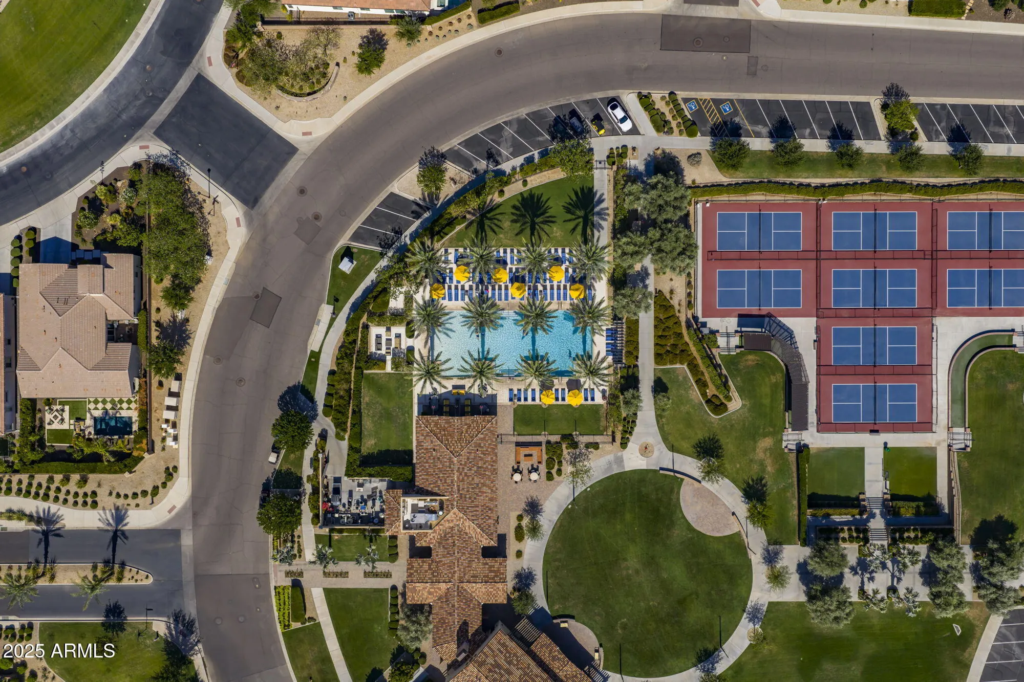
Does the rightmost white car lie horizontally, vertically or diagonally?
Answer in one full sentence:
The rightmost white car is laid out diagonally.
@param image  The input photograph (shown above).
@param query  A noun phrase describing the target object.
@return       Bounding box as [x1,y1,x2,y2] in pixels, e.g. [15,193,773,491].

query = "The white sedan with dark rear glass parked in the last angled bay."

[607,100,631,130]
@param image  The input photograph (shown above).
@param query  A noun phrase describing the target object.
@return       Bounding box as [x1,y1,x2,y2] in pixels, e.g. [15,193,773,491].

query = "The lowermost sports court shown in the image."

[819,375,934,433]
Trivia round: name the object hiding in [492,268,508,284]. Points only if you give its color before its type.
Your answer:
yellow umbrella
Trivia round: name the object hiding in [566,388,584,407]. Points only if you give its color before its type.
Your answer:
yellow umbrella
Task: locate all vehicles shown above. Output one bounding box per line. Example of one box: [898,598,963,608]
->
[564,107,583,134]
[549,109,568,136]
[587,112,604,137]
[268,445,285,466]
[607,100,631,130]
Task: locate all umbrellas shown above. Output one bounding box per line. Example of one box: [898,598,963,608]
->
[566,388,584,407]
[492,268,508,284]
[539,389,556,405]
[430,283,446,299]
[548,265,564,282]
[453,264,471,282]
[509,281,527,299]
[569,283,586,299]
